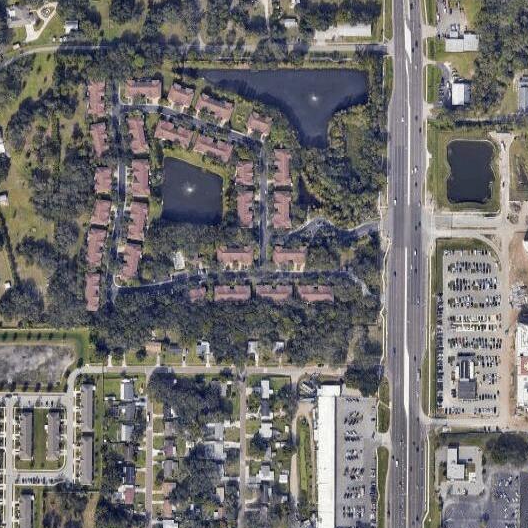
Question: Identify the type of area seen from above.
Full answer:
This looks like a residential area.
